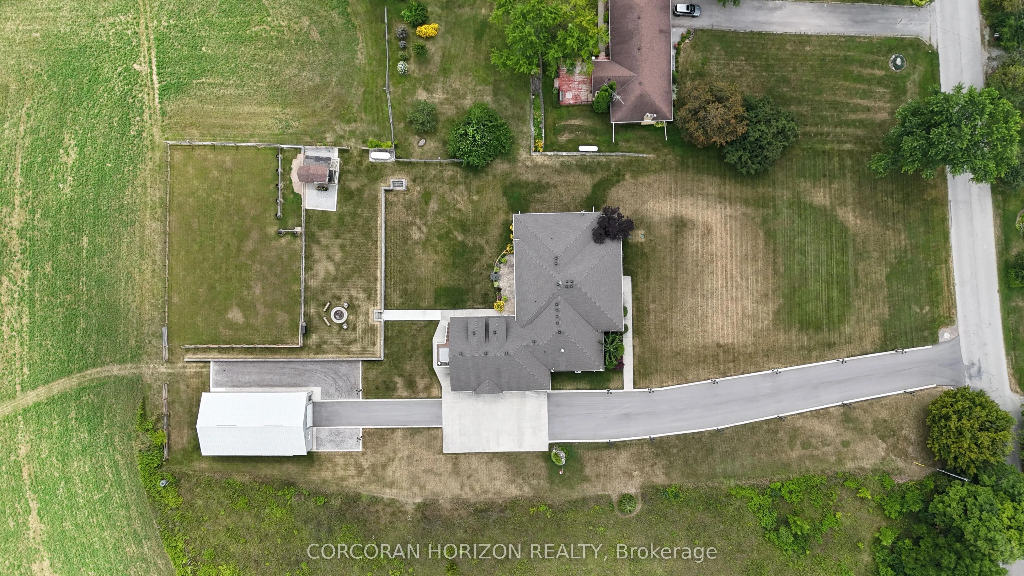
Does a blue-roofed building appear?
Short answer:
No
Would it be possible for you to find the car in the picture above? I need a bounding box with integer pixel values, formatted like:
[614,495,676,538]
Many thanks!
[672,3,701,18]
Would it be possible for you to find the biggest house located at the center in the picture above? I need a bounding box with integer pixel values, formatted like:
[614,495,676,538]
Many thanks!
[448,207,624,395]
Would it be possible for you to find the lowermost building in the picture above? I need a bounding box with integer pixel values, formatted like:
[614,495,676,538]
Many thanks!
[198,390,314,457]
